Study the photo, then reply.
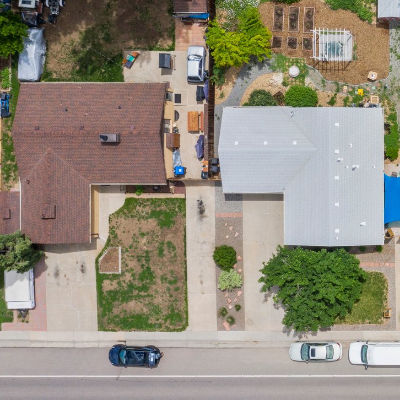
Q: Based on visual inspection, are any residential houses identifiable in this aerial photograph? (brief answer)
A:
Yes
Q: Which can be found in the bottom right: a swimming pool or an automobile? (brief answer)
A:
automobile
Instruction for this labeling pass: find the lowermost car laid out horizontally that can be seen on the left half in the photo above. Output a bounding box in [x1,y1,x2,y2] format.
[111,344,165,368]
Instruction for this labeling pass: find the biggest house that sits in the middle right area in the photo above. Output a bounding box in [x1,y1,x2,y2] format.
[217,106,385,247]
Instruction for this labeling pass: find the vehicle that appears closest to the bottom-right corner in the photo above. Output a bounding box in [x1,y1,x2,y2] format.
[350,339,400,367]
